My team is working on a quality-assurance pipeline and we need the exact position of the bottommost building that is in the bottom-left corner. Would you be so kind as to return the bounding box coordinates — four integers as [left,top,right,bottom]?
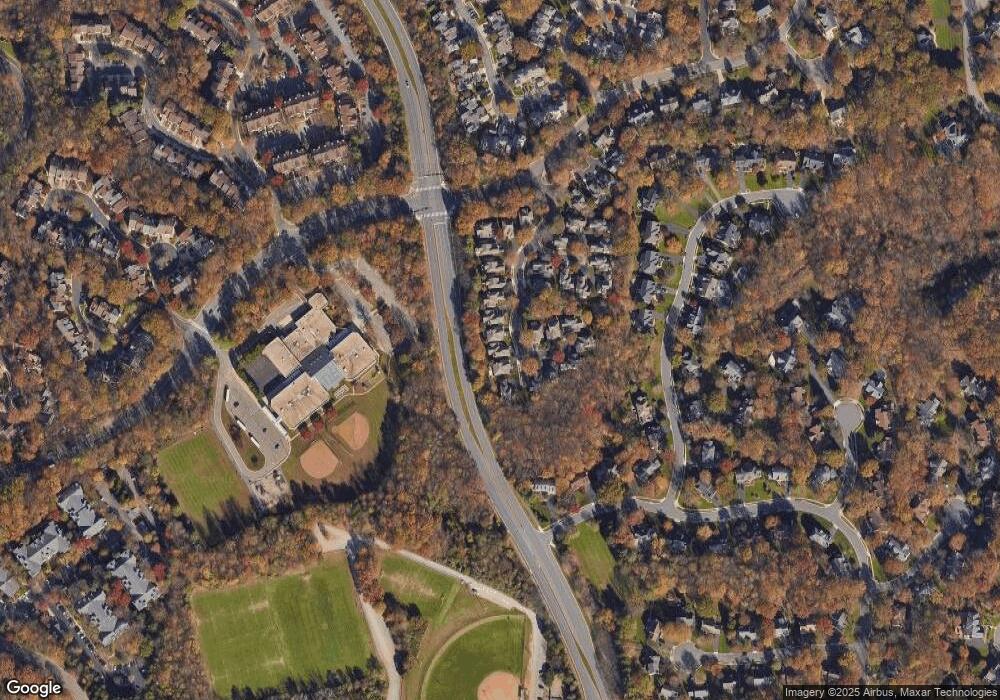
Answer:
[75,588,132,645]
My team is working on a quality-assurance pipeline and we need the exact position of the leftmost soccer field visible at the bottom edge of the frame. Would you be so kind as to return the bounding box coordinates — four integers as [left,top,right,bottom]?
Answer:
[189,550,377,700]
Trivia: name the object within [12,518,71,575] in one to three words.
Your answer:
building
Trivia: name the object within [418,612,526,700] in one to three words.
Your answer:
baseball field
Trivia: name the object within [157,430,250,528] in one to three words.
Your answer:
sports field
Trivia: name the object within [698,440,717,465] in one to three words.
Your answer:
house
